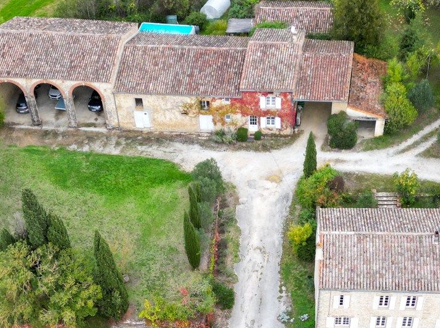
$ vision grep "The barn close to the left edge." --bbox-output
[0,16,141,129]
